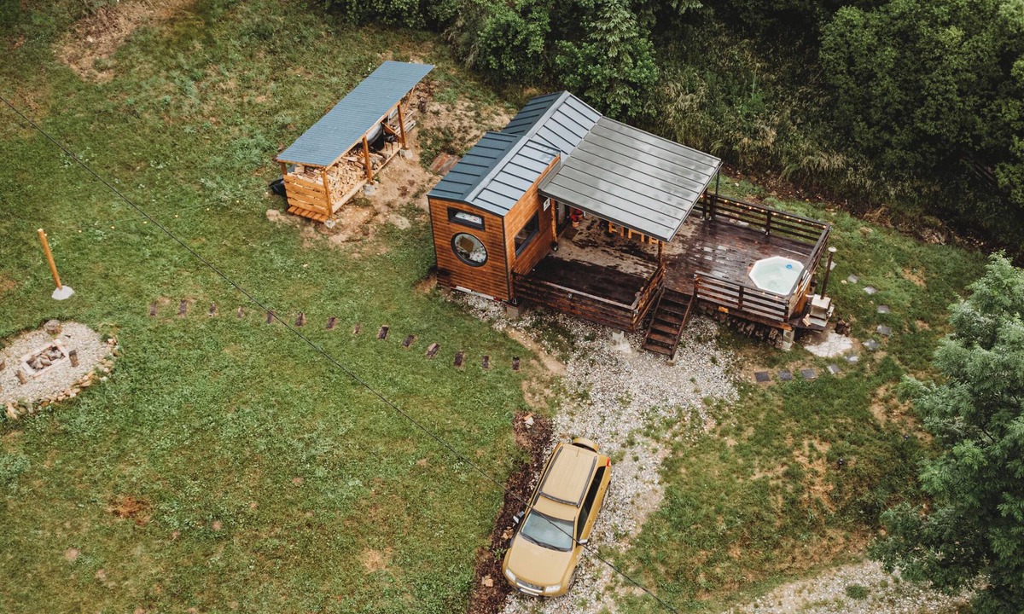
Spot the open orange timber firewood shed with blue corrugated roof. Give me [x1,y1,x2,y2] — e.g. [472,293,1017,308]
[272,60,441,227]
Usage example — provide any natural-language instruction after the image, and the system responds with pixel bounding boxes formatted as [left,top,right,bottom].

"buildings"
[425,88,604,305]
[272,60,441,227]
